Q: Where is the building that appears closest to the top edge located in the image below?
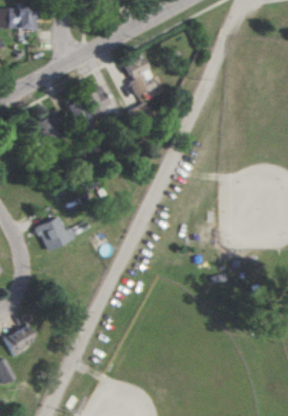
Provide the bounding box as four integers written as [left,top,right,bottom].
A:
[0,5,39,42]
